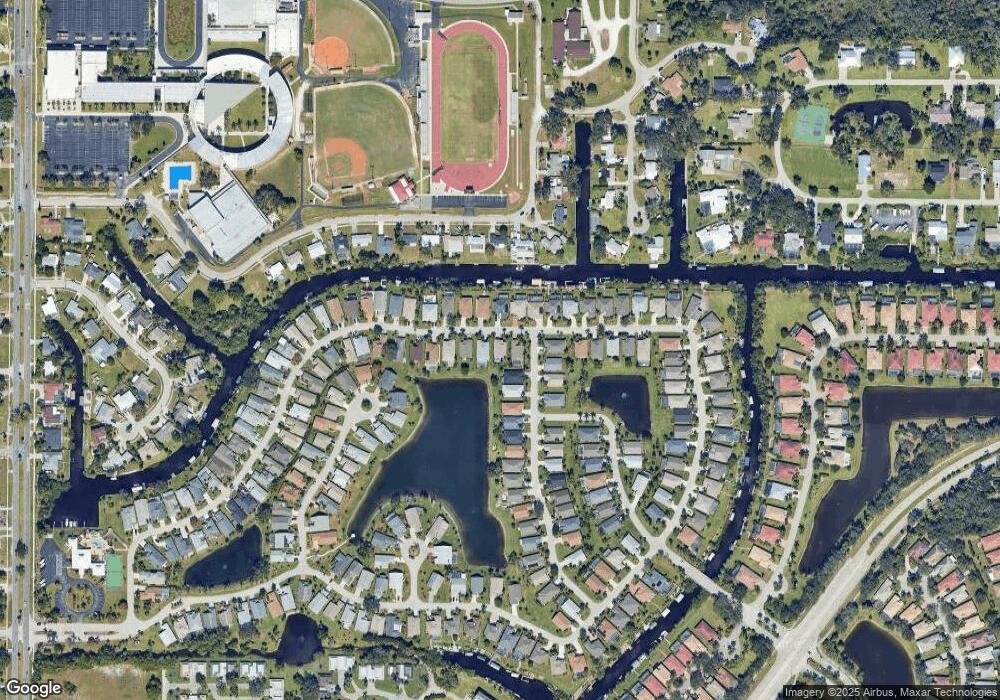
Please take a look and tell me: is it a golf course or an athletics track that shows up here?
athletics track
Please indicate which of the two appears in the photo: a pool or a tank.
pool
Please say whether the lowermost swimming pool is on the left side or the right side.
left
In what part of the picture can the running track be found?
top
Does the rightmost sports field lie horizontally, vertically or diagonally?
vertically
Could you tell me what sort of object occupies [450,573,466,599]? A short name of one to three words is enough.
house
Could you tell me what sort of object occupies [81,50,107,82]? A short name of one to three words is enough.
building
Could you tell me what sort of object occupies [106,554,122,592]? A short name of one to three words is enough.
tennis court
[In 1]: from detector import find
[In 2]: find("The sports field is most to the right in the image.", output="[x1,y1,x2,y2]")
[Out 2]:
[441,31,497,162]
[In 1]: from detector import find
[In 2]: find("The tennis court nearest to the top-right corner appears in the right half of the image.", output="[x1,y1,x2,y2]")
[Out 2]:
[795,106,828,141]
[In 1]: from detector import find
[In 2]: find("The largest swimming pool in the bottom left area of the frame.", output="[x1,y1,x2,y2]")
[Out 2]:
[79,533,110,562]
